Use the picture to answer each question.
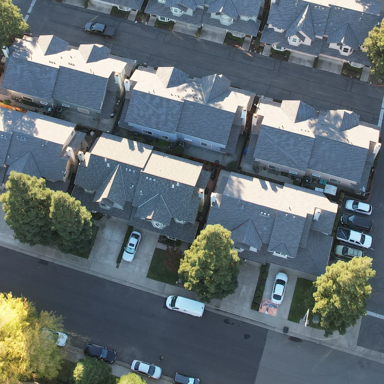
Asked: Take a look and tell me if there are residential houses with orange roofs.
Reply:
No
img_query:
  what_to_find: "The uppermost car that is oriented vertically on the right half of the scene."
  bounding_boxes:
[271,272,287,305]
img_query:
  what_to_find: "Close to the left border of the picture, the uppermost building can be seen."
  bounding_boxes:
[0,34,131,124]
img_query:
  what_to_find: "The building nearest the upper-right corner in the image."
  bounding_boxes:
[265,0,384,73]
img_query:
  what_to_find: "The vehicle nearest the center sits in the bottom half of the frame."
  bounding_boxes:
[123,231,141,263]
